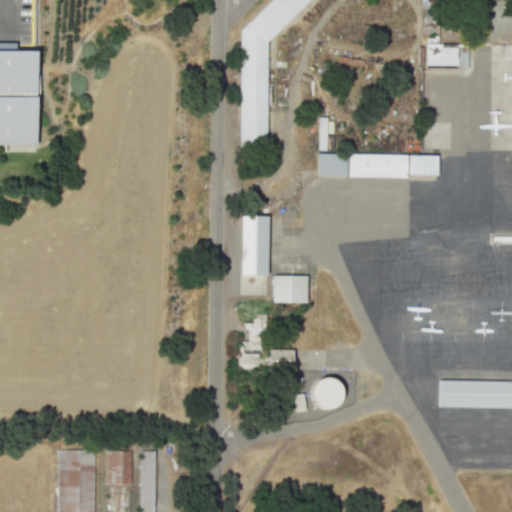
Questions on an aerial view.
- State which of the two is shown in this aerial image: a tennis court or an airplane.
airplane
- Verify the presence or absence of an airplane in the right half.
Yes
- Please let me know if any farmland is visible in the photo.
Yes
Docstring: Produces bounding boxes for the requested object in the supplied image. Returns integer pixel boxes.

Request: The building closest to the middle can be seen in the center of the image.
[242,216,270,274]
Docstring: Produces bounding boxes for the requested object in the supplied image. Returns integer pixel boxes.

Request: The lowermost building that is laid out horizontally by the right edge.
[438,380,512,408]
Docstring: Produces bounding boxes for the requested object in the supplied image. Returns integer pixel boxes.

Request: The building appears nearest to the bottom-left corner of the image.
[58,450,96,512]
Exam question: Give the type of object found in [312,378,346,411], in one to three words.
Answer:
storage tank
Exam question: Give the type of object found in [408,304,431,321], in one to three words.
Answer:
airplane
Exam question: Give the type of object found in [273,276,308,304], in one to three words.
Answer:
building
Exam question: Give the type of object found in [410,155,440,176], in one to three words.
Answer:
hangar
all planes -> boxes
[492,306,512,324]
[480,107,512,130]
[422,320,444,336]
[474,320,494,336]
[408,304,431,321]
